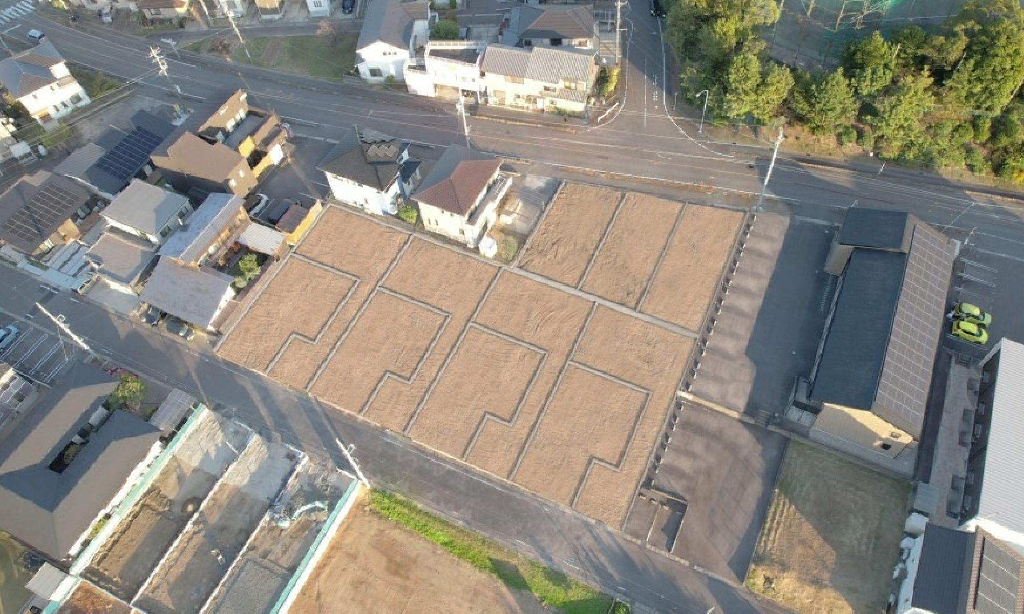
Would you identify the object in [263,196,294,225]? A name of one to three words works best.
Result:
car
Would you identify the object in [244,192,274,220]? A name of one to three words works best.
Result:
car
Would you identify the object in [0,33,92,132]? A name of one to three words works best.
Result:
house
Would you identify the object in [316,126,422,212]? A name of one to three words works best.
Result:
house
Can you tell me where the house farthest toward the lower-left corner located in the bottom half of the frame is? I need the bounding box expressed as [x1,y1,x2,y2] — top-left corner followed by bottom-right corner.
[24,566,66,600]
